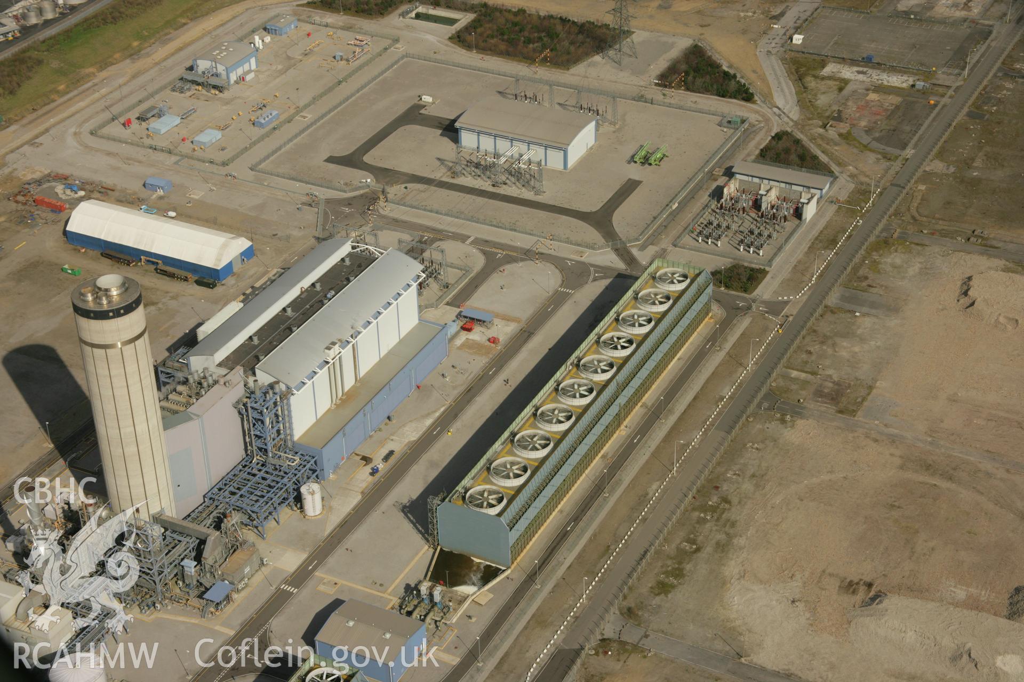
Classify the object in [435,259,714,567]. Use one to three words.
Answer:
cooling tower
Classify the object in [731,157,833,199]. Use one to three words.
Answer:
building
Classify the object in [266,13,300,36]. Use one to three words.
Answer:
building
